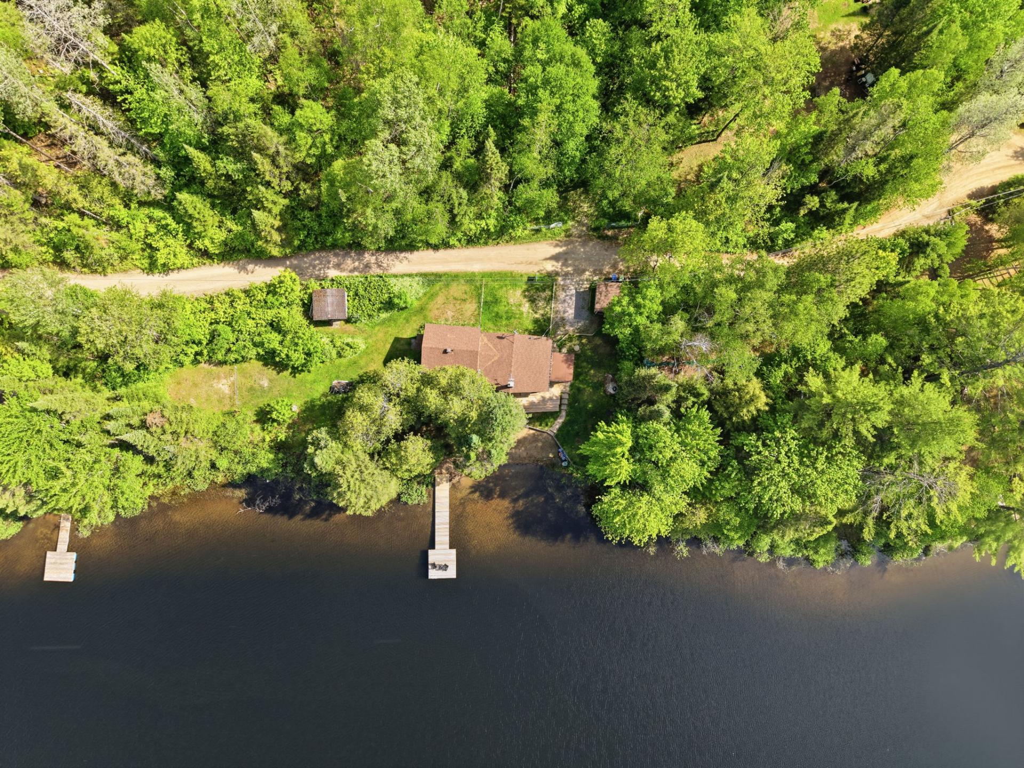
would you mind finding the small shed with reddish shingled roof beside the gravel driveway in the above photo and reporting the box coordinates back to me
[593,280,621,313]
